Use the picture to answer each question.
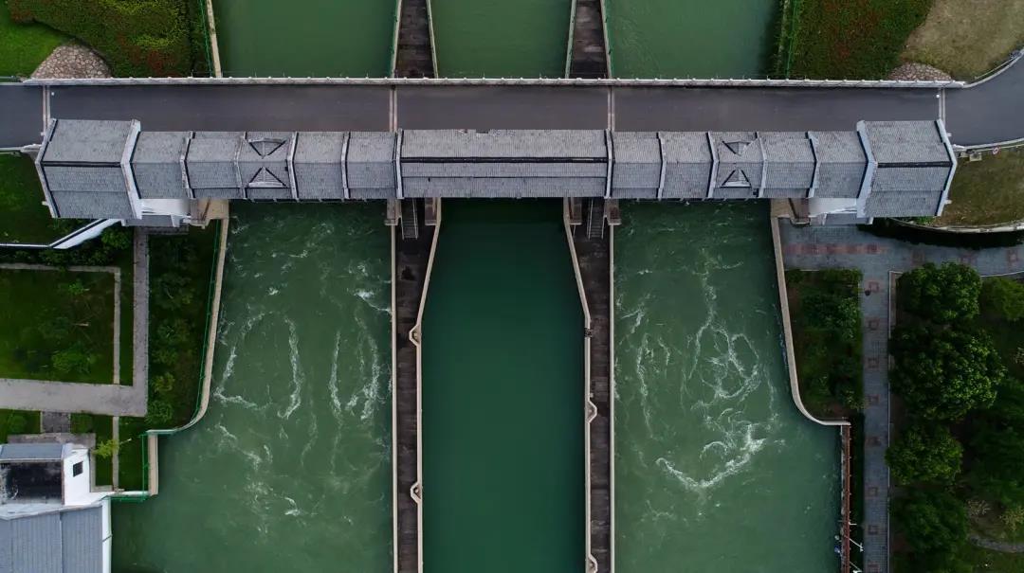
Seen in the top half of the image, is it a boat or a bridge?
bridge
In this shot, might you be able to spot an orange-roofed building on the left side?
No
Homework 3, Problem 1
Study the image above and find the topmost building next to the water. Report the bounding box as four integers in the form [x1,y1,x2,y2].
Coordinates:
[30,118,961,231]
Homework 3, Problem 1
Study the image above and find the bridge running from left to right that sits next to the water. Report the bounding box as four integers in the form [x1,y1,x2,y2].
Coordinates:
[24,75,964,131]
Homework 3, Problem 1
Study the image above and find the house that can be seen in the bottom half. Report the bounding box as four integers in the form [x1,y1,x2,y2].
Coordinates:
[0,443,118,573]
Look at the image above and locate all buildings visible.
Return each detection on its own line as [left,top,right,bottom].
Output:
[30,118,961,231]
[0,443,118,573]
